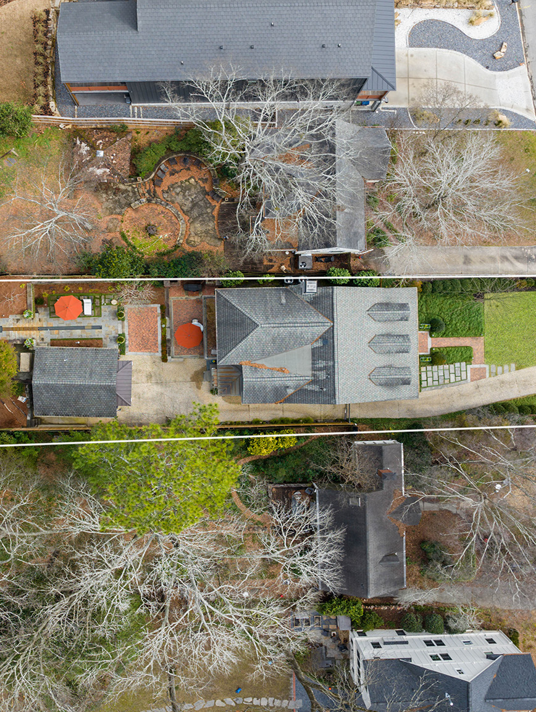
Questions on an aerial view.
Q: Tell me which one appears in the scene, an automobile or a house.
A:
house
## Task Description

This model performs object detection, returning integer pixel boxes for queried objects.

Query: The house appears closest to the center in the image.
[215,279,420,405]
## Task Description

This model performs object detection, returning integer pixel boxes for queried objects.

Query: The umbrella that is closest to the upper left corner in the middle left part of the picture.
[53,293,82,321]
